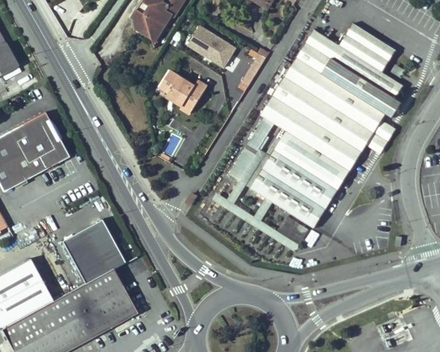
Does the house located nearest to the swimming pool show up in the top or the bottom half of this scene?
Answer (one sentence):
The house located nearest to the swimming pool sits in the top half of the picture.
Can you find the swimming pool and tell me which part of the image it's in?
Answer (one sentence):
The swimming pool is in the center part of the image.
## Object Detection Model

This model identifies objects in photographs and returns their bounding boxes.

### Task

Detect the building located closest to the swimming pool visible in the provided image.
[158,69,207,115]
